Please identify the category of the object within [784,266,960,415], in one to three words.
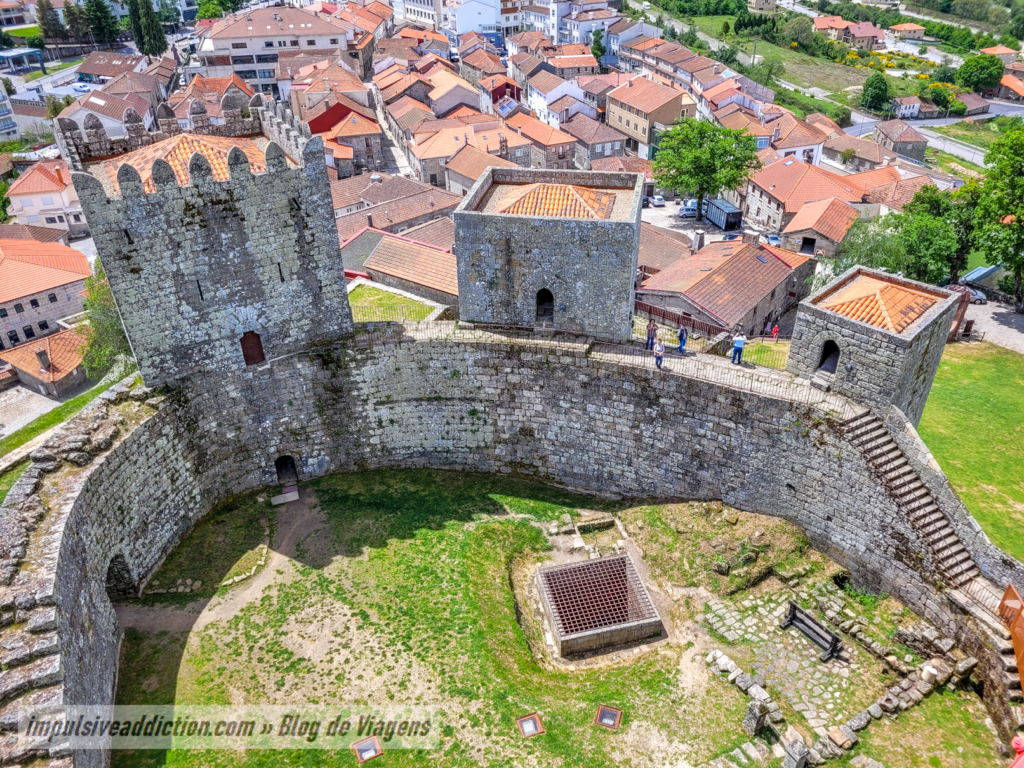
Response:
building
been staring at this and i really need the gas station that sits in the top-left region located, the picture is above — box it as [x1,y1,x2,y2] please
[0,48,54,78]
